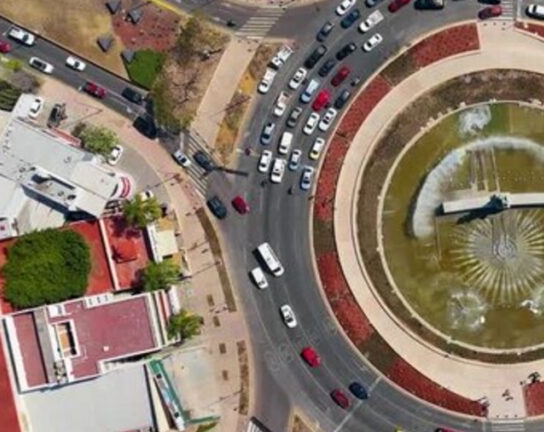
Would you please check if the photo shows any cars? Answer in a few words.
Yes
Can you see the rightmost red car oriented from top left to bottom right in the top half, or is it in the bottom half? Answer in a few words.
bottom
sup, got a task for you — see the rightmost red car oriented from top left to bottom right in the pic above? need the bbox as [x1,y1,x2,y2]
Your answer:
[330,387,350,408]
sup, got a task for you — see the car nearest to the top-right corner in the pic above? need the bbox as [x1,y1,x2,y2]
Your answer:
[527,4,544,17]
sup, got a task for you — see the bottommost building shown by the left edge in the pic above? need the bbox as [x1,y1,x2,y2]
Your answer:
[25,357,158,432]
